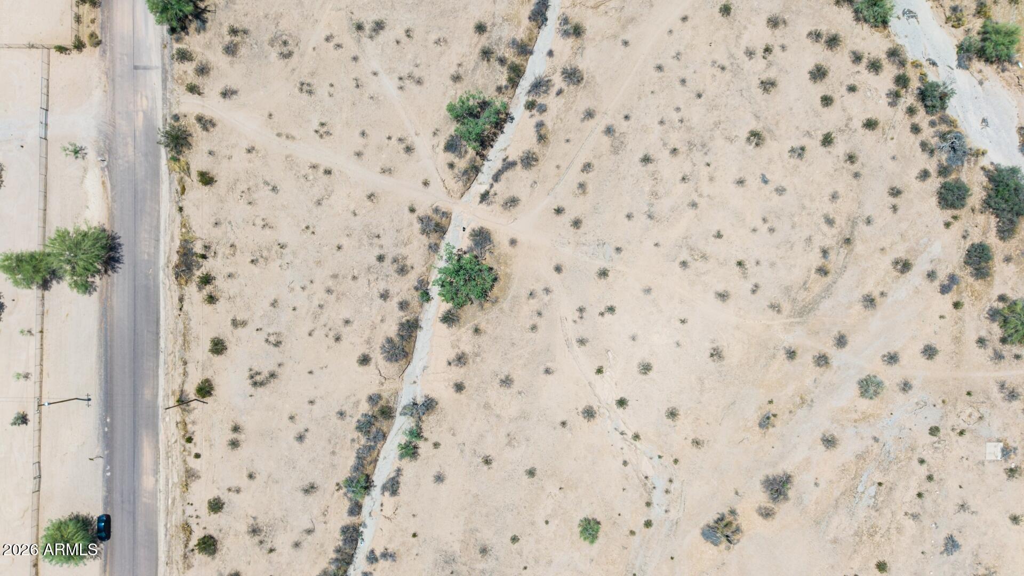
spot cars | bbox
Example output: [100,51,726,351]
[96,513,112,541]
